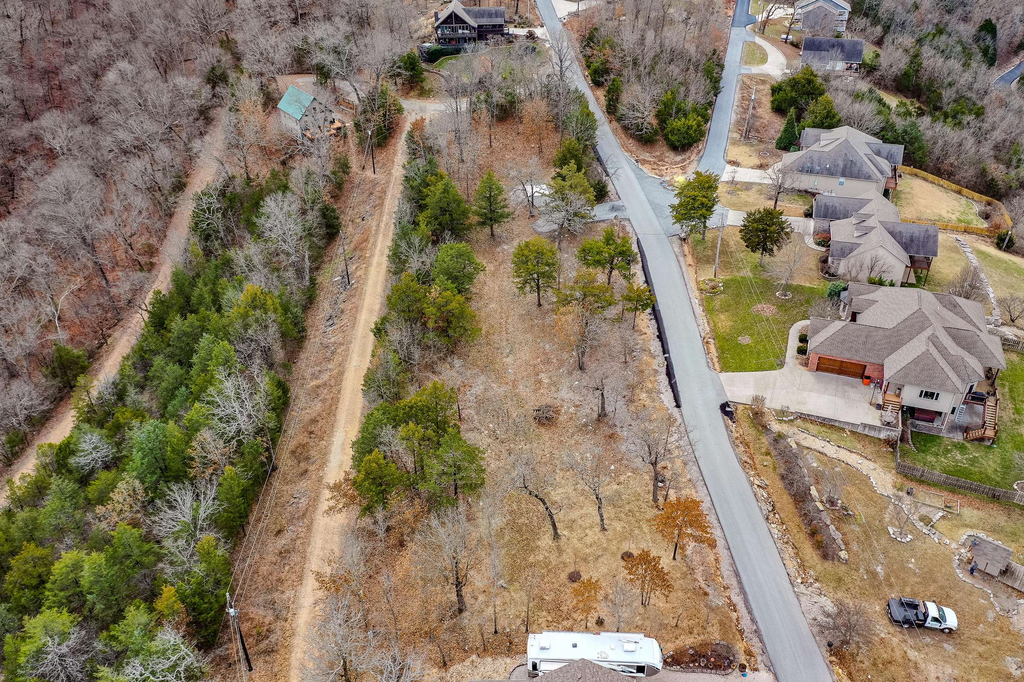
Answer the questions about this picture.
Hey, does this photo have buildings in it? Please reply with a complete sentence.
Yes, the image includes a building.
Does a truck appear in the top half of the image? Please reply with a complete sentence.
No, in the top half of the image there is no truck.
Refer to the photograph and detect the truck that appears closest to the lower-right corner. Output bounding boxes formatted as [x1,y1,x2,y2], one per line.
[884,597,959,634]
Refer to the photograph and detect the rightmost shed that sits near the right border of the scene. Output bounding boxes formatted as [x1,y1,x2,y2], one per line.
[967,535,1013,577]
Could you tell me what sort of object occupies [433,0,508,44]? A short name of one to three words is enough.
house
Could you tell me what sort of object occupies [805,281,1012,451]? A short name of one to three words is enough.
house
